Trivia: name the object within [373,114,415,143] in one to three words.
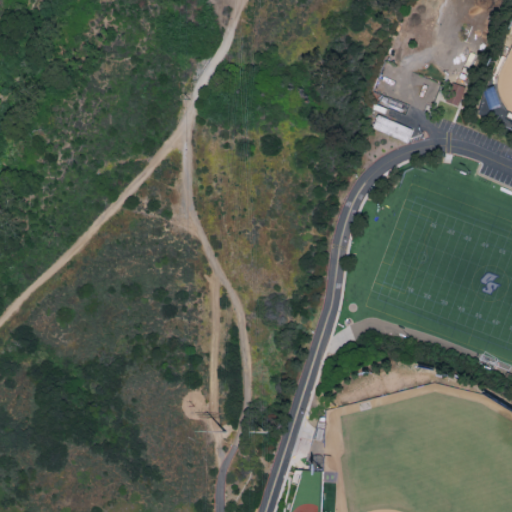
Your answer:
building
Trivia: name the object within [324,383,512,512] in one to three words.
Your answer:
baseball field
